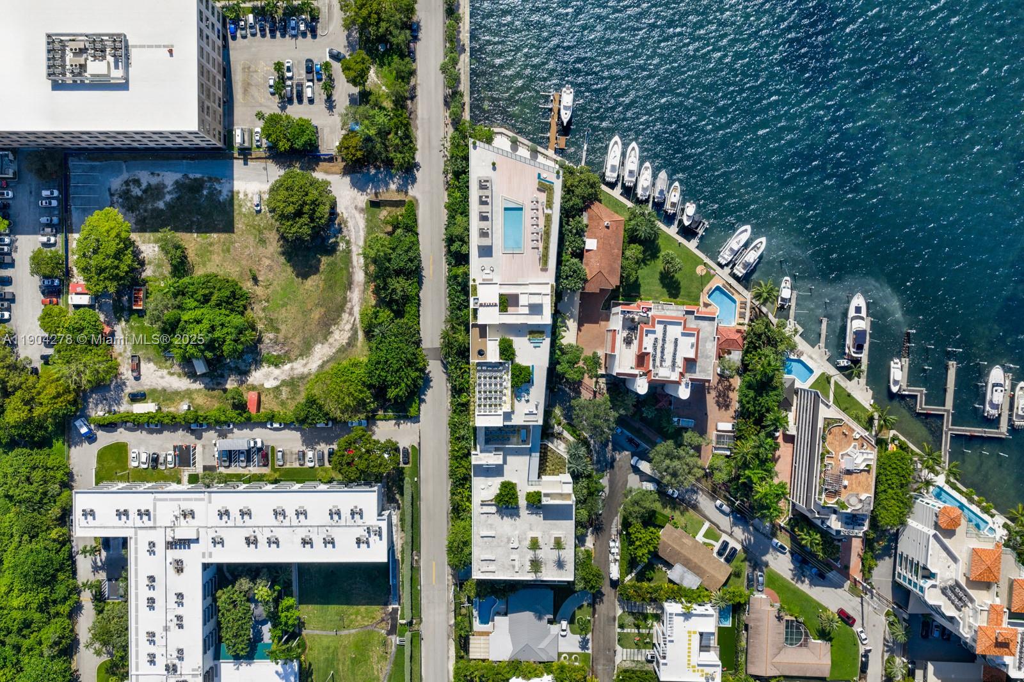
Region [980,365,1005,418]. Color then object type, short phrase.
white boat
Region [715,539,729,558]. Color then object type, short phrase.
black car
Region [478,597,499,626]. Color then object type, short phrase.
blue swimming pool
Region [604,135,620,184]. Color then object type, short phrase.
white boat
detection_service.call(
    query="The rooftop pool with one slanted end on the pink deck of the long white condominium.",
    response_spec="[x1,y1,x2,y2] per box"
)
[502,195,526,253]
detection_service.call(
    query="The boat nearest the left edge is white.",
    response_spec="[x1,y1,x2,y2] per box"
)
[559,85,573,127]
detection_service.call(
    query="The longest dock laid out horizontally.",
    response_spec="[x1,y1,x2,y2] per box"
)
[948,426,1008,439]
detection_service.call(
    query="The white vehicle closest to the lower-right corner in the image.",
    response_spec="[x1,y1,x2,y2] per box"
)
[854,626,868,646]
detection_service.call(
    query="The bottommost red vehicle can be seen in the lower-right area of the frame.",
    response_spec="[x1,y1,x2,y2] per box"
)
[836,608,855,625]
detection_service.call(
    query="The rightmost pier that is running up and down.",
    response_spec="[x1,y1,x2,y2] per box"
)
[997,372,1012,435]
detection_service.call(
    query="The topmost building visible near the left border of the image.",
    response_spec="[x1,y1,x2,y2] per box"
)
[0,0,227,150]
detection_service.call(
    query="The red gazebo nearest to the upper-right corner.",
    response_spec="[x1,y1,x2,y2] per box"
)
[716,327,744,351]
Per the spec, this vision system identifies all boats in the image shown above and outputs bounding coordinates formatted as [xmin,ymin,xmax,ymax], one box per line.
[604,135,620,184]
[888,358,901,394]
[664,182,680,216]
[980,365,1005,418]
[622,141,638,186]
[688,214,701,234]
[776,277,790,310]
[842,292,866,364]
[716,225,750,266]
[834,360,850,366]
[653,170,668,203]
[682,201,695,226]
[1008,381,1024,429]
[559,85,573,127]
[635,161,651,201]
[732,238,766,278]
